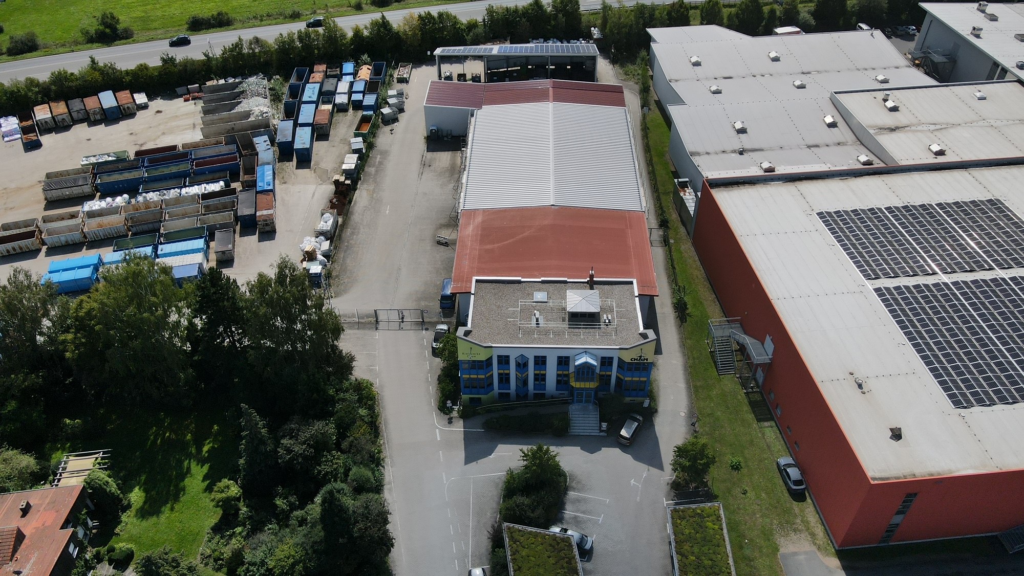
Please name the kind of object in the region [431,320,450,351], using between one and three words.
car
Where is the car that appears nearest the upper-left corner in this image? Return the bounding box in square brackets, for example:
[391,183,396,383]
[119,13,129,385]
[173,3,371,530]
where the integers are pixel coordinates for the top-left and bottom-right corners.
[168,35,191,47]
